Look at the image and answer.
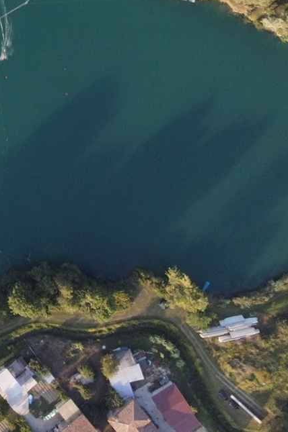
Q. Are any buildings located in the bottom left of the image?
Yes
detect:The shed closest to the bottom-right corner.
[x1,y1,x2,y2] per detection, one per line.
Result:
[149,380,204,432]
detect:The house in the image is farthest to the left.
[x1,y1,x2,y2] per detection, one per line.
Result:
[0,355,38,417]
